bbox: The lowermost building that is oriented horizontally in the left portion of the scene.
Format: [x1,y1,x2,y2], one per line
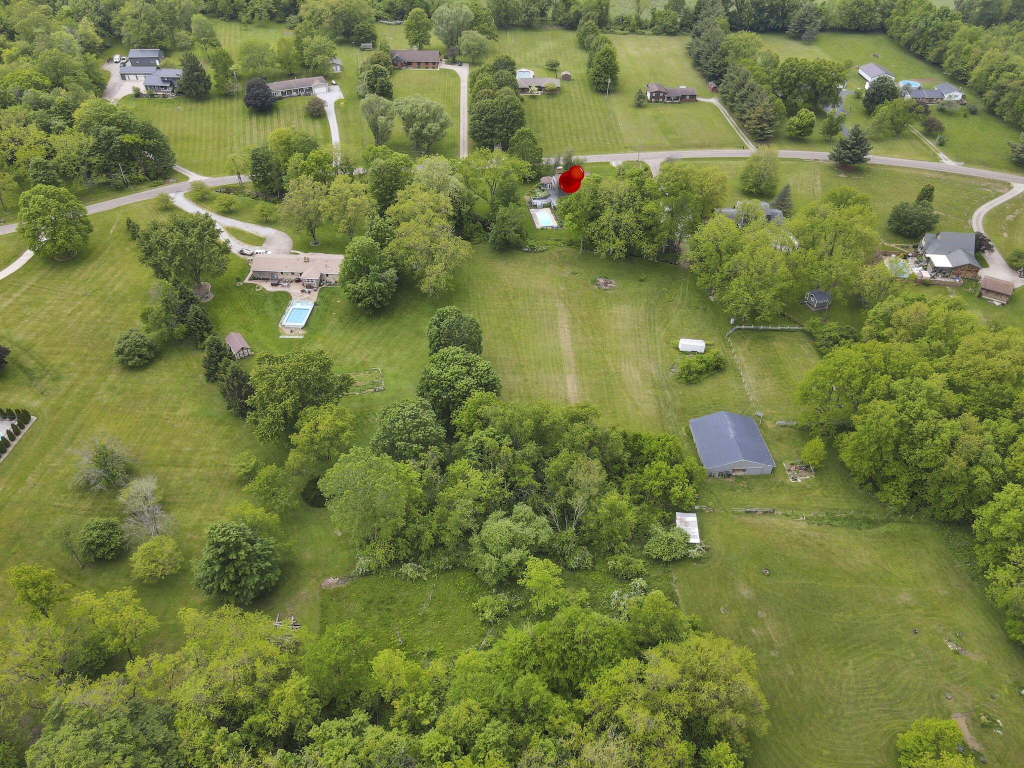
[250,252,349,289]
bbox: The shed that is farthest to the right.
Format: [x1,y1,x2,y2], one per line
[982,277,1017,302]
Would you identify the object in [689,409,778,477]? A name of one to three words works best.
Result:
barn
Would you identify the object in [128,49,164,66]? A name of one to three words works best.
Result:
barn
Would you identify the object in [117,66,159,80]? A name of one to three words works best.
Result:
house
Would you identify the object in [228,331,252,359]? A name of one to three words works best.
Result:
shed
